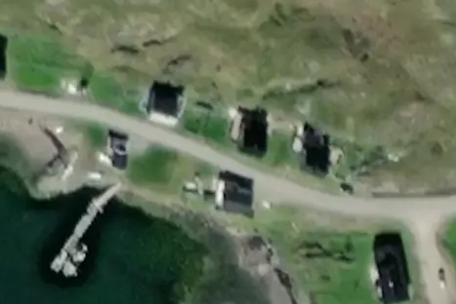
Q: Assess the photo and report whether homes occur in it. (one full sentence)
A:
Yes, there's a home down there.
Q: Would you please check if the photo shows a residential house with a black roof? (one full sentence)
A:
Yes, there is a residential house with a black roof in the image.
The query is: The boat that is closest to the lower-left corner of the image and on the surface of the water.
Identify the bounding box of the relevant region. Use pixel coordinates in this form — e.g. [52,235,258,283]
[64,262,78,278]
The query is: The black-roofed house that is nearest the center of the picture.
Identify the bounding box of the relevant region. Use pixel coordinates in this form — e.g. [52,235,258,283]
[237,127,267,157]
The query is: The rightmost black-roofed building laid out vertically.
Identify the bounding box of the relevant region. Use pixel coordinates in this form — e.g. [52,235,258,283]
[374,240,409,304]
